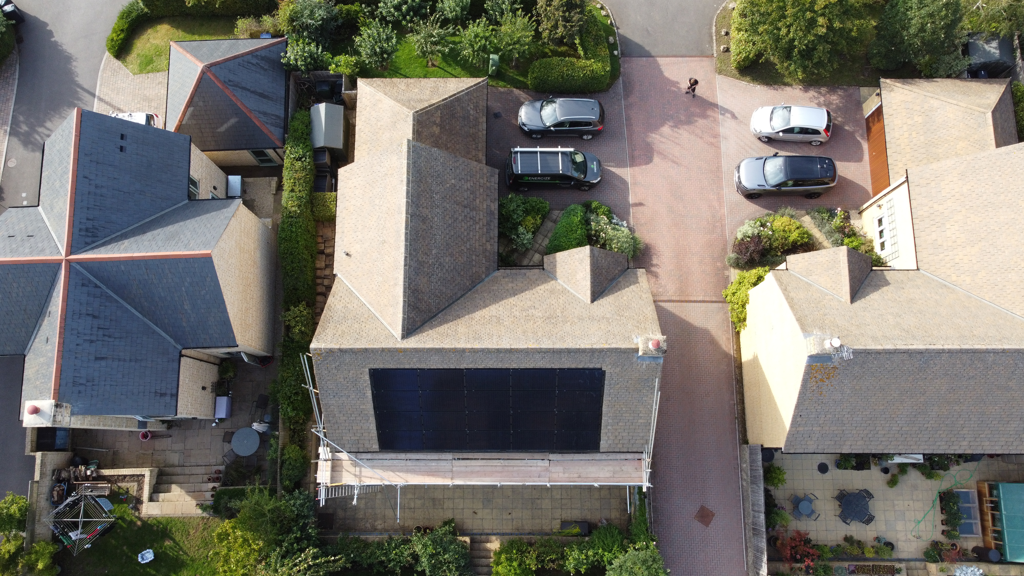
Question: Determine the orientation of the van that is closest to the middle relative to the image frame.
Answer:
from left to right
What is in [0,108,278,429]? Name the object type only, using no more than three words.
house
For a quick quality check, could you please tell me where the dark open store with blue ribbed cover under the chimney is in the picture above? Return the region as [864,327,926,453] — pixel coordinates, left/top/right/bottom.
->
[42,428,80,451]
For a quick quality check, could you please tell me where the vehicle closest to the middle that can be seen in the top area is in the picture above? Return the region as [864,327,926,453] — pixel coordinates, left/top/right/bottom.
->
[505,146,603,193]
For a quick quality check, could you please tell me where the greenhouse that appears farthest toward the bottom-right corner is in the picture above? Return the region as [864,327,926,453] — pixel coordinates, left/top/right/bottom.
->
[978,482,1024,572]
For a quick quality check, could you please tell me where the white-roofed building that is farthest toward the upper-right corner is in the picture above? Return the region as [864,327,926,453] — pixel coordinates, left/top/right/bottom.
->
[736,76,1024,456]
